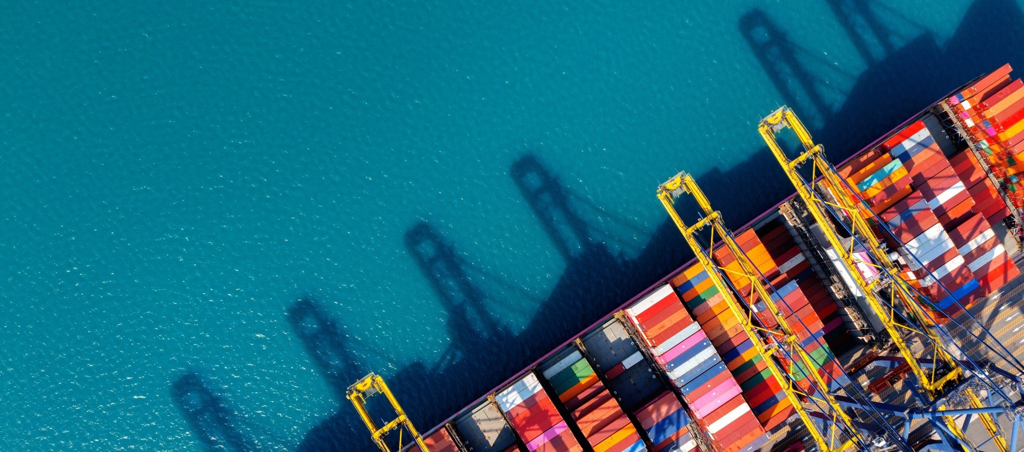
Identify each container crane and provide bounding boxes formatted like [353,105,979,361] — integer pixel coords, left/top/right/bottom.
[755,101,1024,452]
[338,367,435,452]
[653,165,930,452]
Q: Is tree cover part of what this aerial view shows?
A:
No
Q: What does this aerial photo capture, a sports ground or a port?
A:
port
